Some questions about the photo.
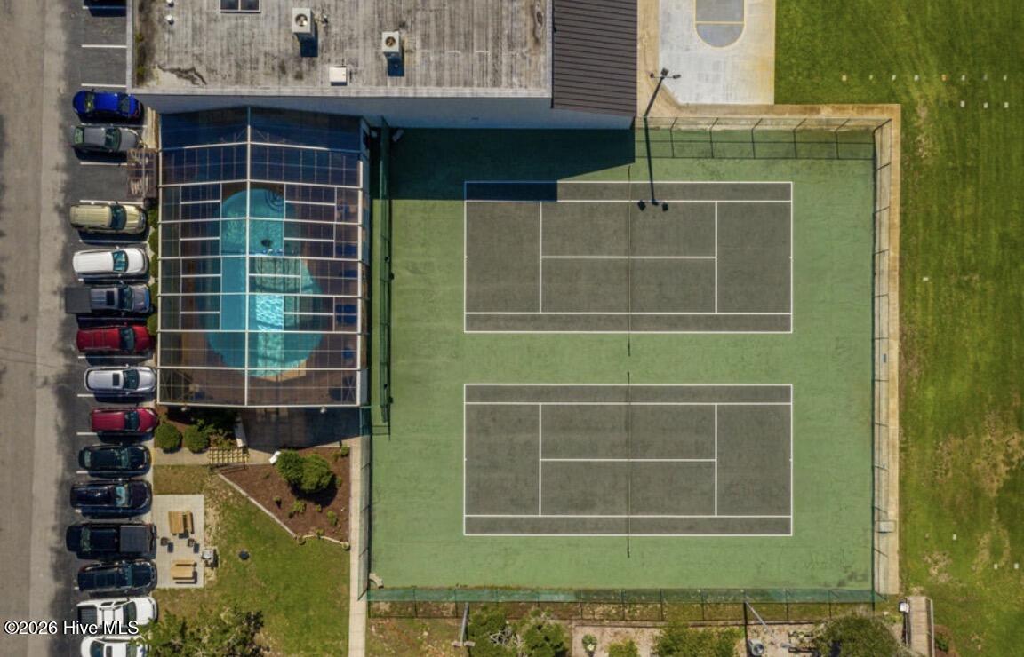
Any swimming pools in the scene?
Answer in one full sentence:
Yes, there's a swimming pool down there.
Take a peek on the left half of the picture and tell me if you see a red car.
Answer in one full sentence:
Yes, a red car appears on the left half of the picture.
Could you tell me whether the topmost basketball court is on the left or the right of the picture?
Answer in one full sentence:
It is on the right.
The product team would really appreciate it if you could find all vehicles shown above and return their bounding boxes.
[77,594,161,629]
[93,405,160,436]
[71,123,142,153]
[65,284,153,316]
[73,480,155,511]
[81,559,160,592]
[82,0,129,10]
[74,247,150,278]
[79,323,155,355]
[80,444,154,473]
[85,365,157,395]
[74,89,146,120]
[70,203,149,235]
[66,522,160,555]
[81,634,156,657]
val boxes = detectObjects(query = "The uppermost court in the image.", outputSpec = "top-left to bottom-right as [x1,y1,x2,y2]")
[659,0,775,104]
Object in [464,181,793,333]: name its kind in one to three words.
tennis court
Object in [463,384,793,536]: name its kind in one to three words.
tennis court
